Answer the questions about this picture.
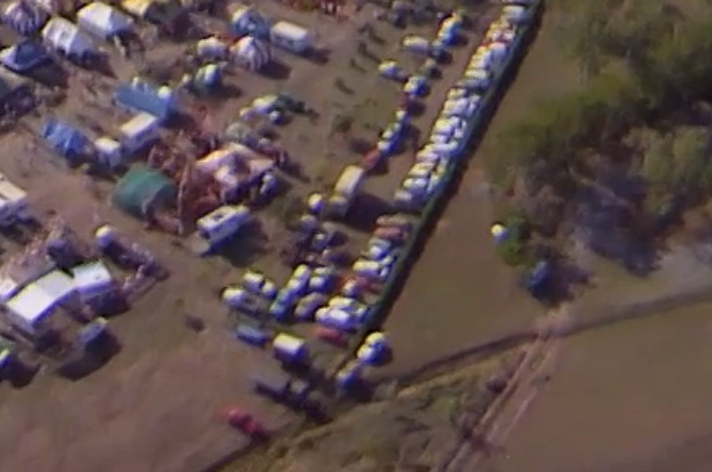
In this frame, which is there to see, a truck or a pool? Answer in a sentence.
Visible in the photo is a truck.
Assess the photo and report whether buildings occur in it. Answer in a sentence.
Yes, the photo shows a building.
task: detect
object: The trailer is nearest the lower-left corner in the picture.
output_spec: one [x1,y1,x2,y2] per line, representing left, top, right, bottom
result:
[78,317,118,356]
